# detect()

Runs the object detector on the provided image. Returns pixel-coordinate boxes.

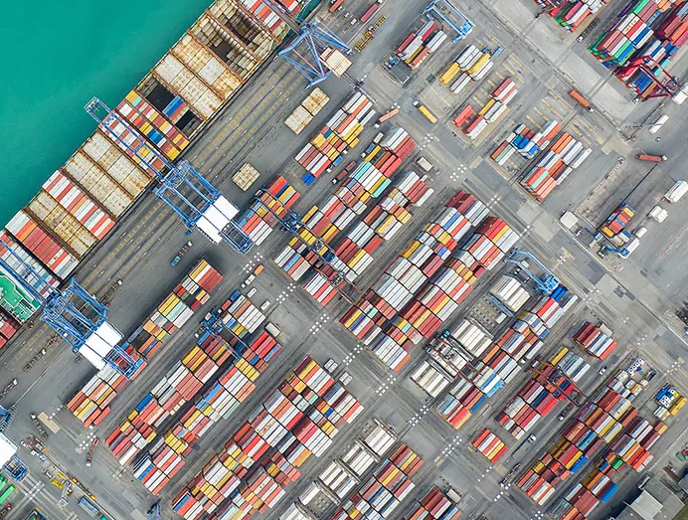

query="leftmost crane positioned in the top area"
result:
[83,95,255,256]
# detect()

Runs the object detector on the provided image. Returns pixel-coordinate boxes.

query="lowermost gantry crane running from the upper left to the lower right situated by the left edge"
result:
[0,235,141,380]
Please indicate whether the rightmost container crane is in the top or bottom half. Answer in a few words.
top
